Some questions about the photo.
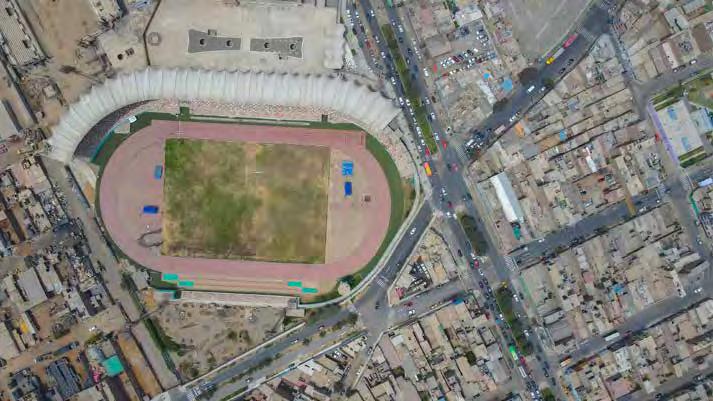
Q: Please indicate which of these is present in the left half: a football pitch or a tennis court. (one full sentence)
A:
Visible in the left half is a football pitch.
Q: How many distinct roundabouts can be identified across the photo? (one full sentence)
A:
Not a single roundabout can be seen.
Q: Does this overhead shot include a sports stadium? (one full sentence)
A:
Yes, a sports stadium is visible in the scene.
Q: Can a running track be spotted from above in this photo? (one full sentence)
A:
Yes, I can see a running track in this picture.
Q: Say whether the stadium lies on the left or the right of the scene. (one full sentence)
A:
The stadium appears in the left half of the scene.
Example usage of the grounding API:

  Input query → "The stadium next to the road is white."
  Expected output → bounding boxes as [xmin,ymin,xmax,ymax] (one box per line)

[47,69,422,308]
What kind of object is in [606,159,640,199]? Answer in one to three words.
house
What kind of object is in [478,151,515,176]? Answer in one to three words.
house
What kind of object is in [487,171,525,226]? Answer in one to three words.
building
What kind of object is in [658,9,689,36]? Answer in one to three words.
building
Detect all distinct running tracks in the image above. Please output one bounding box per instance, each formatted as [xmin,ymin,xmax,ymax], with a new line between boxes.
[99,121,391,297]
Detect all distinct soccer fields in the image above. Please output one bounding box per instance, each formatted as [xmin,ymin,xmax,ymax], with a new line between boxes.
[162,139,330,264]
